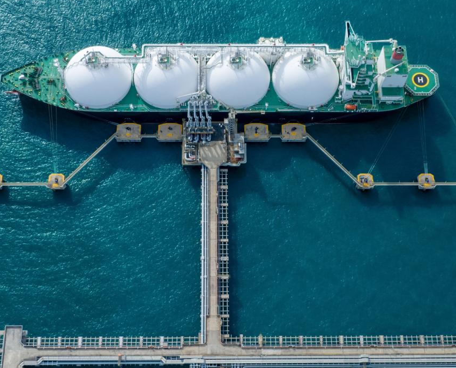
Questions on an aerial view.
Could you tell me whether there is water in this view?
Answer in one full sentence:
Yes, some water is visible.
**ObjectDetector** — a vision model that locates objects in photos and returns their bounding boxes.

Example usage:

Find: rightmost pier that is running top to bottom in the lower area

[200,167,229,342]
